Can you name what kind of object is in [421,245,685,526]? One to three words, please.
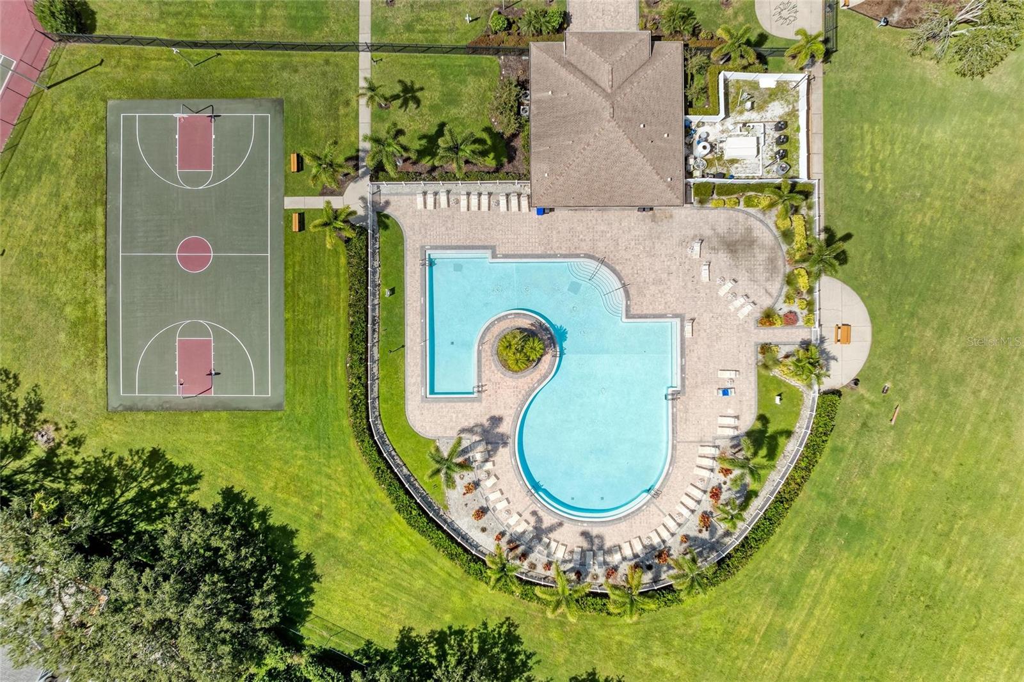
swimming pool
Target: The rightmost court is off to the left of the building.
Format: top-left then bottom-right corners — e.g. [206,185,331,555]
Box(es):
[107,98,284,411]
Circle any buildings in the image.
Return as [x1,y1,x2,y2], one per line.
[530,30,684,207]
